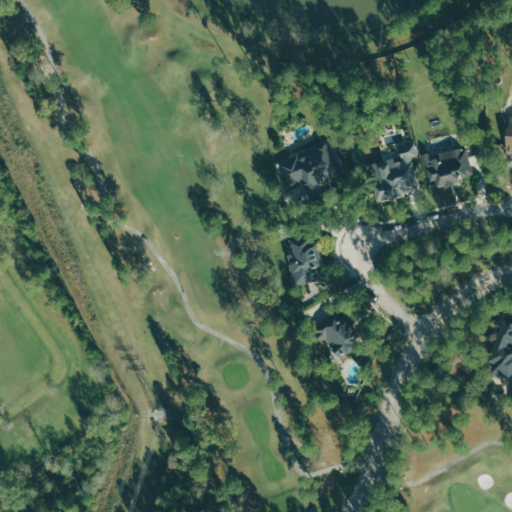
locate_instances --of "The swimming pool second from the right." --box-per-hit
[380,125,406,152]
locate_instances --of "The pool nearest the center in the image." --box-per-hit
[282,124,312,148]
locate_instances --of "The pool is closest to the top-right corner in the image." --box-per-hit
[425,134,458,153]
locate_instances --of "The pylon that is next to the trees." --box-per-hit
[146,406,166,422]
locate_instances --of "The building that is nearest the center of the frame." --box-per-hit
[288,239,323,286]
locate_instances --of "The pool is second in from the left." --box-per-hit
[343,358,362,386]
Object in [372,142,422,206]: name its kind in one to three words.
house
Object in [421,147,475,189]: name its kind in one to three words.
house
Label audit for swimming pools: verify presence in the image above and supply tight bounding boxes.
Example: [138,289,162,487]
[282,124,312,148]
[425,134,458,153]
[343,358,362,386]
[380,125,406,152]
